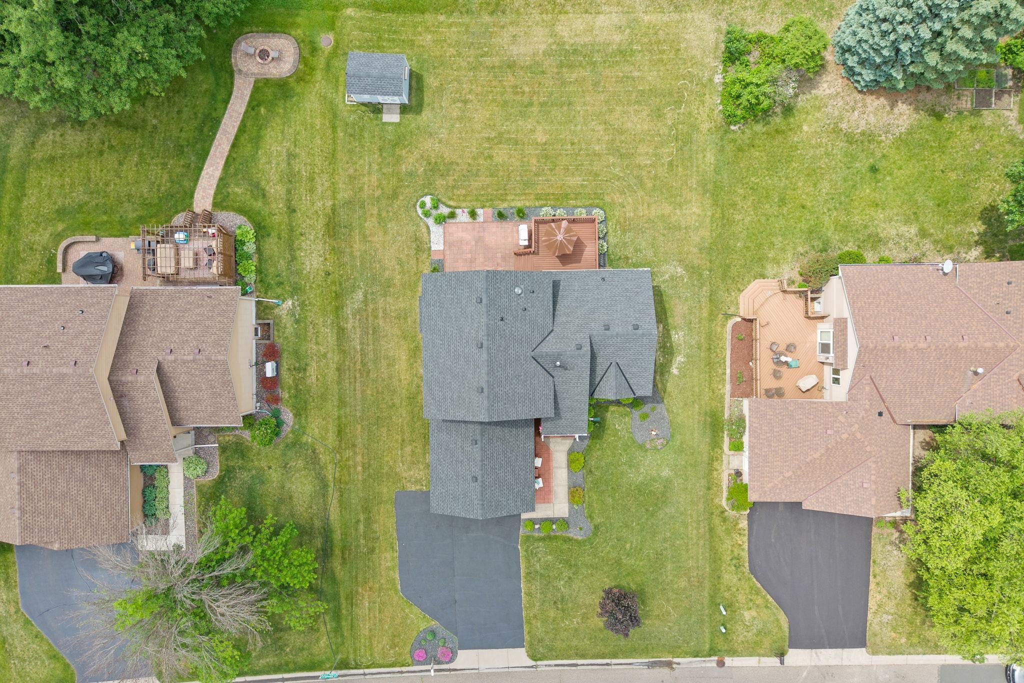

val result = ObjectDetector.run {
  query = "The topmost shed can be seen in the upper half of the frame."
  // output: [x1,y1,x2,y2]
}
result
[345,52,409,104]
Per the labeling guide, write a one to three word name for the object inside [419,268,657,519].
house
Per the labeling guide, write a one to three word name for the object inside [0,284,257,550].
house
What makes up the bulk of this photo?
grass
